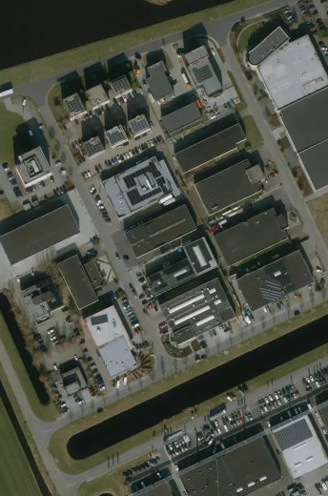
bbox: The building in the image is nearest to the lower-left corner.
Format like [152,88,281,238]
[62,367,87,396]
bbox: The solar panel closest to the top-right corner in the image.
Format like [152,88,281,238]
[193,63,212,82]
